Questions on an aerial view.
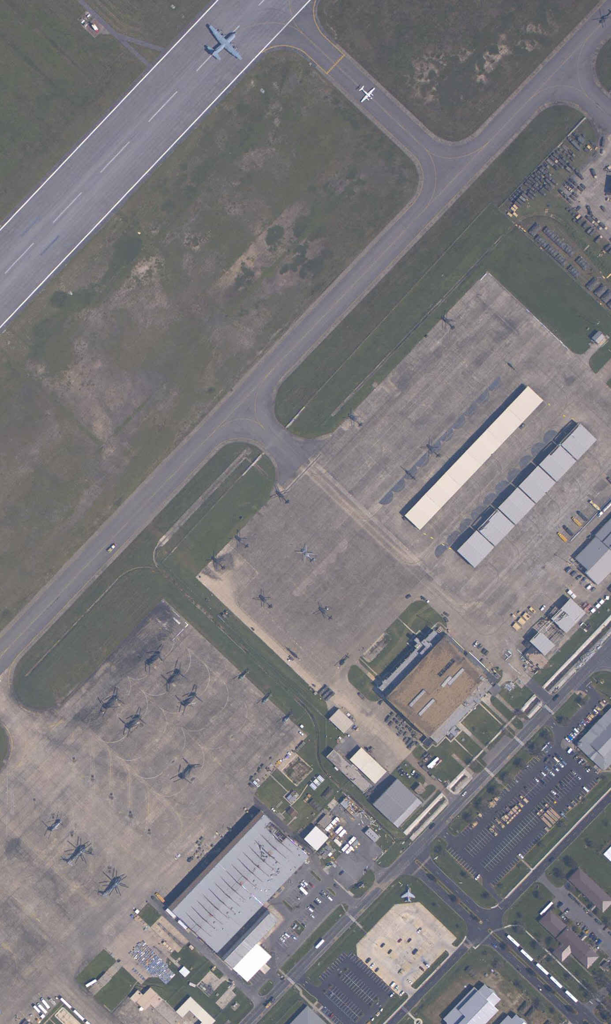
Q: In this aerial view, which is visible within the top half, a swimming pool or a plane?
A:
plane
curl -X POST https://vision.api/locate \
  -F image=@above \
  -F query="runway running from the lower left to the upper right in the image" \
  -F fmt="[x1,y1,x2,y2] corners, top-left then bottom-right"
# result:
[0,0,310,328]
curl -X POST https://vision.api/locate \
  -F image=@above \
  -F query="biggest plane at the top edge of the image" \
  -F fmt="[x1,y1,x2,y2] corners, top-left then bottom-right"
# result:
[206,25,241,61]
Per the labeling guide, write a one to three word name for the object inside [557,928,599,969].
house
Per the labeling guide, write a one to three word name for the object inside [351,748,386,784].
building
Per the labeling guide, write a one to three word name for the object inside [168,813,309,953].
hangar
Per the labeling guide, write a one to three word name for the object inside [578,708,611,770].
building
